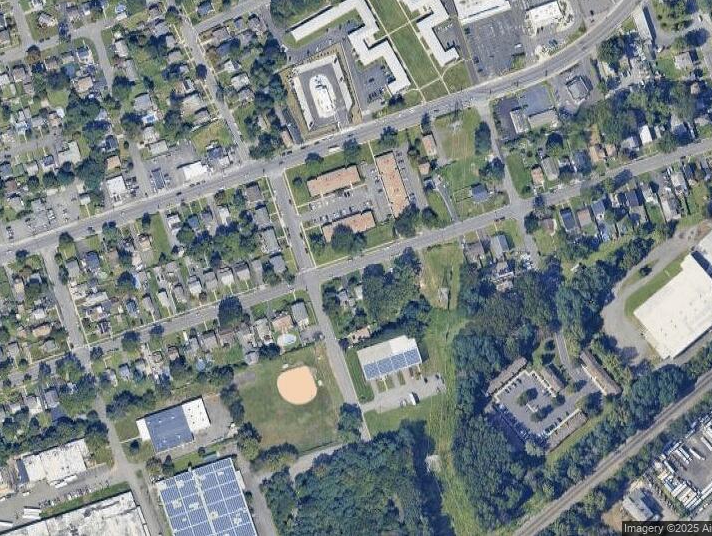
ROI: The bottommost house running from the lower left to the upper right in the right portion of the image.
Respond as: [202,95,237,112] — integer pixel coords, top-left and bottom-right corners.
[542,412,587,453]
